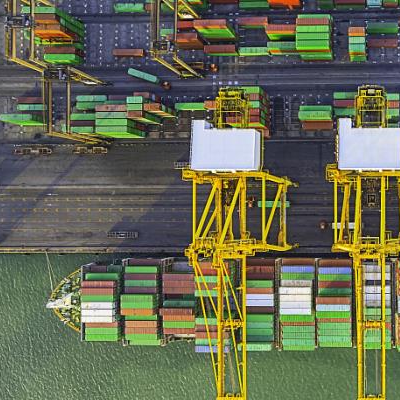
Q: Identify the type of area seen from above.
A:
port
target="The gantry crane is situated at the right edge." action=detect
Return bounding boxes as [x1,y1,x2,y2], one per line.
[319,82,400,400]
